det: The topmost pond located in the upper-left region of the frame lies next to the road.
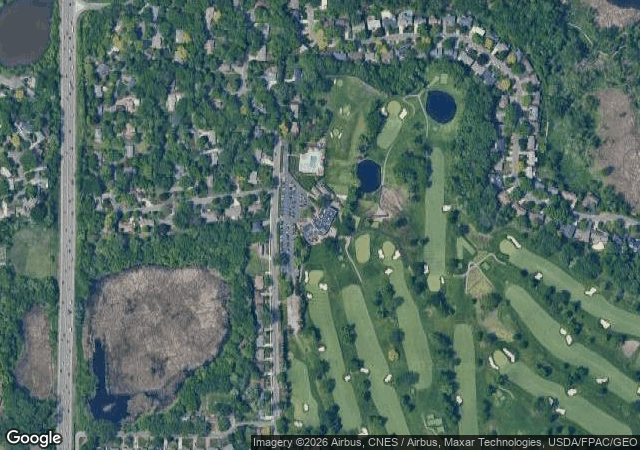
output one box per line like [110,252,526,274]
[0,0,54,66]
